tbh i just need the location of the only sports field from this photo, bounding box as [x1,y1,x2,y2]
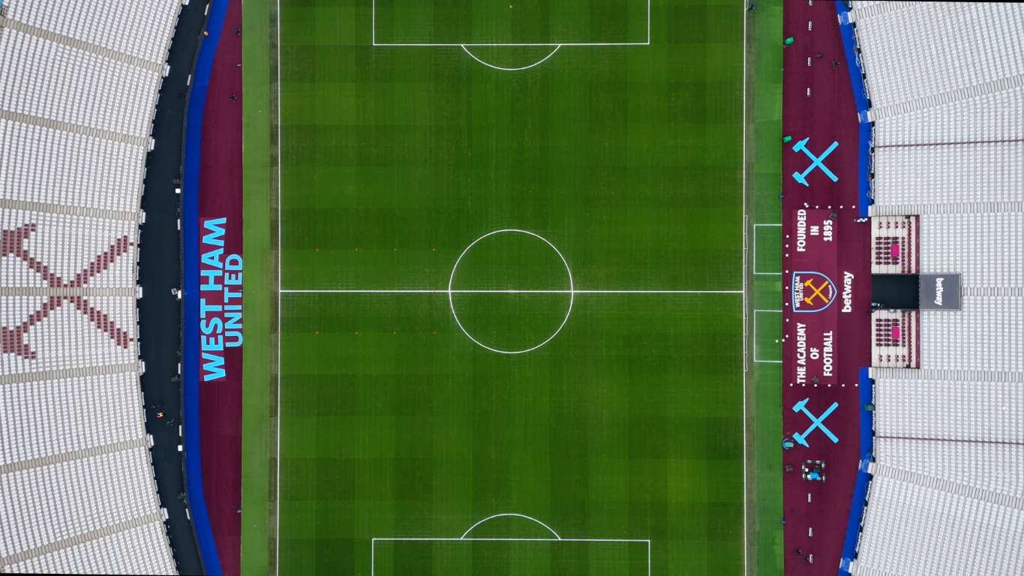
[277,0,783,576]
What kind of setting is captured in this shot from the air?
sports ground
